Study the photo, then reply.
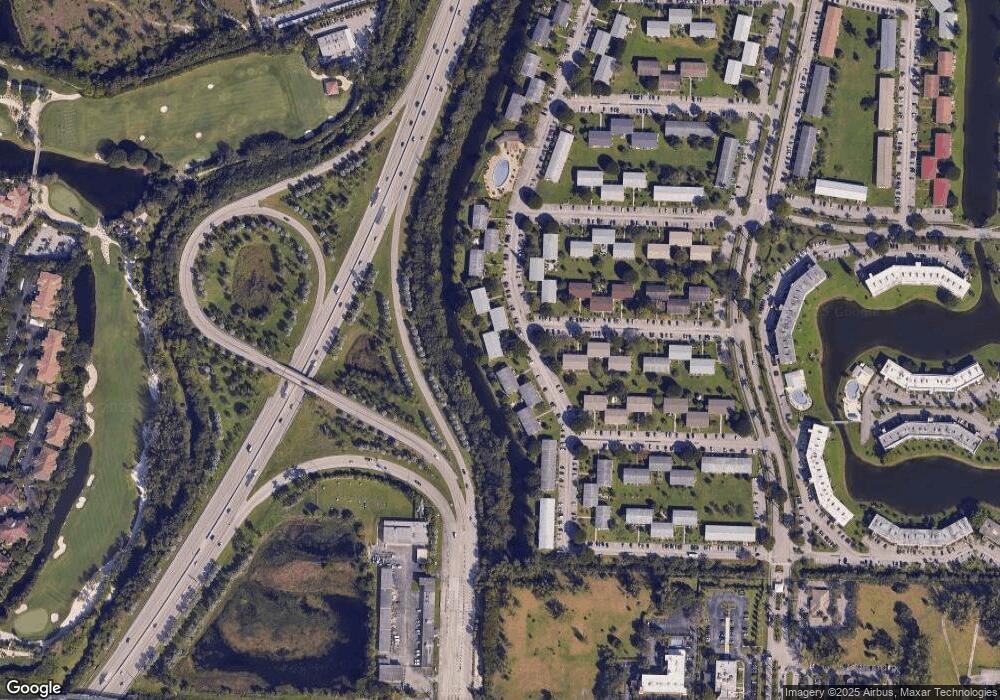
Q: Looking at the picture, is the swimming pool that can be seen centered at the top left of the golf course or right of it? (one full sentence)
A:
Relative to the golf course, the swimming pool that can be seen centered at the top is on the right.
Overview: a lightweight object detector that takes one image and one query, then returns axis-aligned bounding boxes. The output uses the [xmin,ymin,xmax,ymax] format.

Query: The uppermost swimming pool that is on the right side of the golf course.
[484,142,525,198]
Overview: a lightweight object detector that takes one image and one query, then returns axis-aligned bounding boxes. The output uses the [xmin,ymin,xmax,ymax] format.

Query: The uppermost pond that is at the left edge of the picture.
[0,145,147,222]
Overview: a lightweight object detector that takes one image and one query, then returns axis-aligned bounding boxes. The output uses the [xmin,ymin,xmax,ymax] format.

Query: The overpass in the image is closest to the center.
[262,356,323,394]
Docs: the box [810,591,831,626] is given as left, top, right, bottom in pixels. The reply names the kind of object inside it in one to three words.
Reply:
house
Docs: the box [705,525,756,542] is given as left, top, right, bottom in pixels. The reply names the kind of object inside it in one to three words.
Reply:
building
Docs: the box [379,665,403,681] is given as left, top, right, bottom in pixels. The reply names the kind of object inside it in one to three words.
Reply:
shed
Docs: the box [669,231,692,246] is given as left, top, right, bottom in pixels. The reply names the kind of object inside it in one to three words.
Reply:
building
